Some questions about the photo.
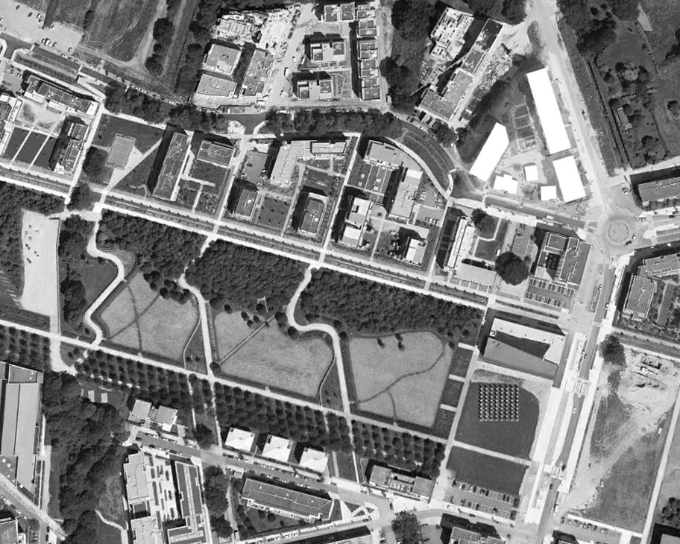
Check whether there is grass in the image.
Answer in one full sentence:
Yes, some grass is visible.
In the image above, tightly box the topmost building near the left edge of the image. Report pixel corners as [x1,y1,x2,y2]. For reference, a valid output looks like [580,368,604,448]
[23,75,99,116]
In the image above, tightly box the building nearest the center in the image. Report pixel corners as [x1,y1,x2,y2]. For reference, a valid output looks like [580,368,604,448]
[342,226,363,247]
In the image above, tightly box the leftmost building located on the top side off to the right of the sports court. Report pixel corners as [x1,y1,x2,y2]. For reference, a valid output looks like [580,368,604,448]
[152,133,190,199]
